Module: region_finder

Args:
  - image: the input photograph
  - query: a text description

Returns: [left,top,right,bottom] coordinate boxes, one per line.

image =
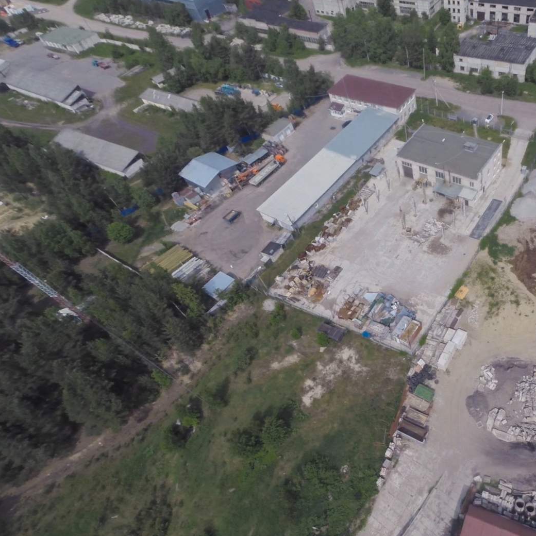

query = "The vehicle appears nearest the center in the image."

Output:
[221,209,242,227]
